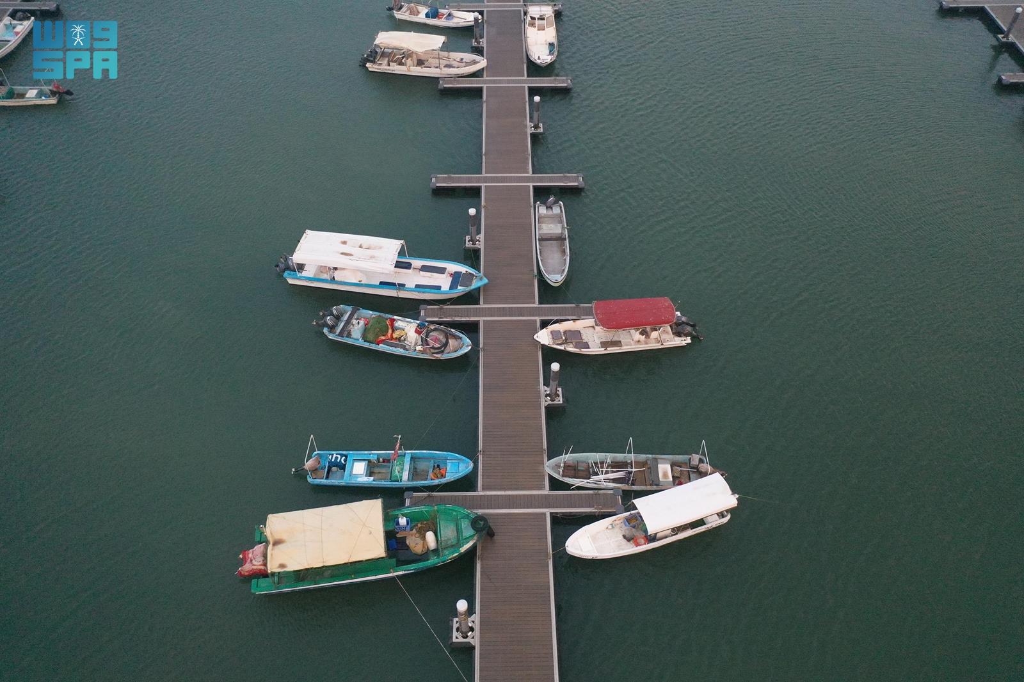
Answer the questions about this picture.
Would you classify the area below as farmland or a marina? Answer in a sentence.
The area seen from above is a marina.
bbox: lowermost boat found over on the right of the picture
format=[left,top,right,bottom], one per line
[564,475,743,557]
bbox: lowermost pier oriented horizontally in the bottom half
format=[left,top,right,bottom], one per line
[403,489,624,516]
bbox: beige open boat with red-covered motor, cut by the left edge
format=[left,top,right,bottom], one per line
[0,66,74,109]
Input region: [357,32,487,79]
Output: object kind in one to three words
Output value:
boat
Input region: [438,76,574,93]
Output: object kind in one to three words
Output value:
pier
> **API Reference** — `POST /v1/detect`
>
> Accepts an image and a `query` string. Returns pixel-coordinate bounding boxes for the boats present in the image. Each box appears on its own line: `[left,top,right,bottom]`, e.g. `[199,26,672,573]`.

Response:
[545,437,731,491]
[269,231,492,302]
[291,436,474,487]
[233,498,485,599]
[533,292,708,354]
[524,0,558,69]
[386,0,485,31]
[0,66,74,109]
[564,475,743,557]
[309,307,472,360]
[536,195,571,286]
[0,6,36,68]
[357,32,487,79]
